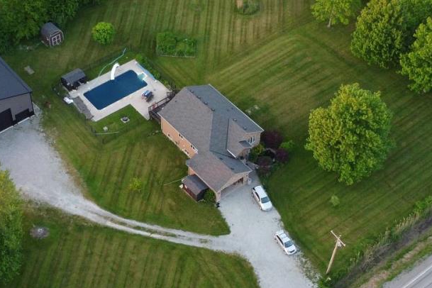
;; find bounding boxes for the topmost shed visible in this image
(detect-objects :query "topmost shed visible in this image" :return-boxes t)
[40,25,62,48]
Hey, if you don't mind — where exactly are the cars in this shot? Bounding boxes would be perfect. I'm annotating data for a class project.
[250,182,275,209]
[274,228,300,255]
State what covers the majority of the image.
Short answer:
grass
